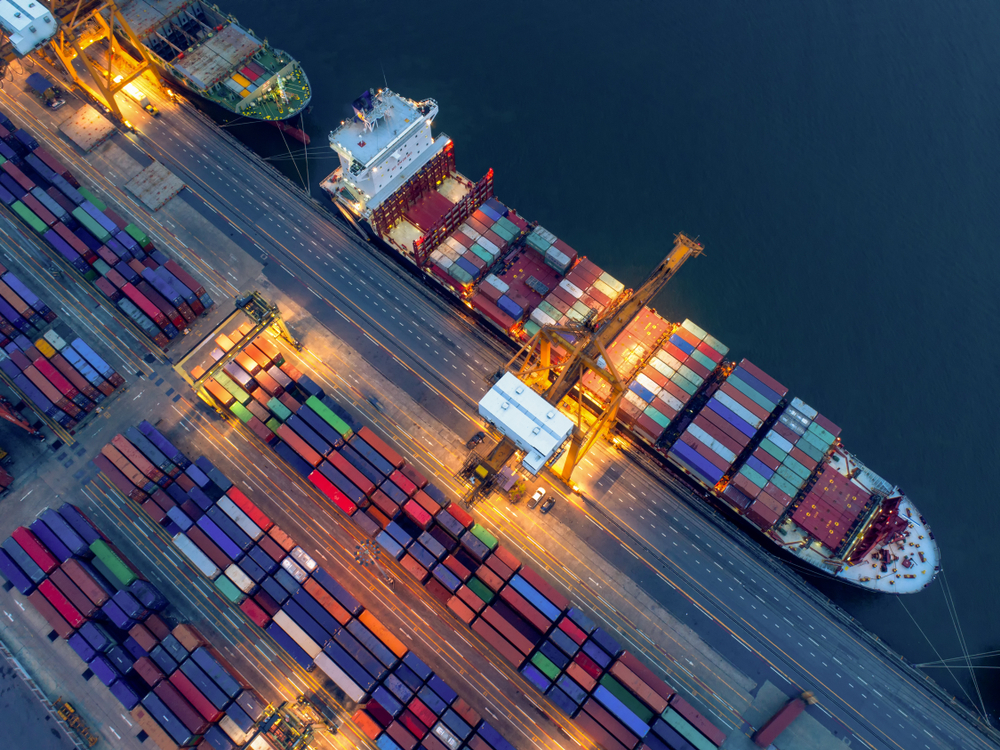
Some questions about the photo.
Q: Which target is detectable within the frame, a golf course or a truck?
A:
truck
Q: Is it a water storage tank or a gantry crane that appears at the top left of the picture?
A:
gantry crane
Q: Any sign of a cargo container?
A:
Yes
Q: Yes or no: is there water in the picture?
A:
Yes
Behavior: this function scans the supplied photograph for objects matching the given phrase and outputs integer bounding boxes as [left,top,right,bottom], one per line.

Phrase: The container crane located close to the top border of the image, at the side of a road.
[0,0,174,128]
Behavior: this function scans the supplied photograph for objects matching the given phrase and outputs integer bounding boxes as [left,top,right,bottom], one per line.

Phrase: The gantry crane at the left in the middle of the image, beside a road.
[168,289,306,422]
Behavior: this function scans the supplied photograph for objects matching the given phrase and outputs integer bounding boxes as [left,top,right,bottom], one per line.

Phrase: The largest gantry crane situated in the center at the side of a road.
[443,224,709,520]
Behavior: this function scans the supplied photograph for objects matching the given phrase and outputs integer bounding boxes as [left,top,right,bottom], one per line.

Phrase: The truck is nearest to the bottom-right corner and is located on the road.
[755,687,819,748]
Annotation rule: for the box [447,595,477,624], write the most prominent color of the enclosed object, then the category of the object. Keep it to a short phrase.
red shipping container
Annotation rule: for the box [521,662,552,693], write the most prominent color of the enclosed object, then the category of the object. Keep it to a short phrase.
blue shipping container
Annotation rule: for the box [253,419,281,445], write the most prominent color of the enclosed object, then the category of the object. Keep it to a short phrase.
red shipping container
